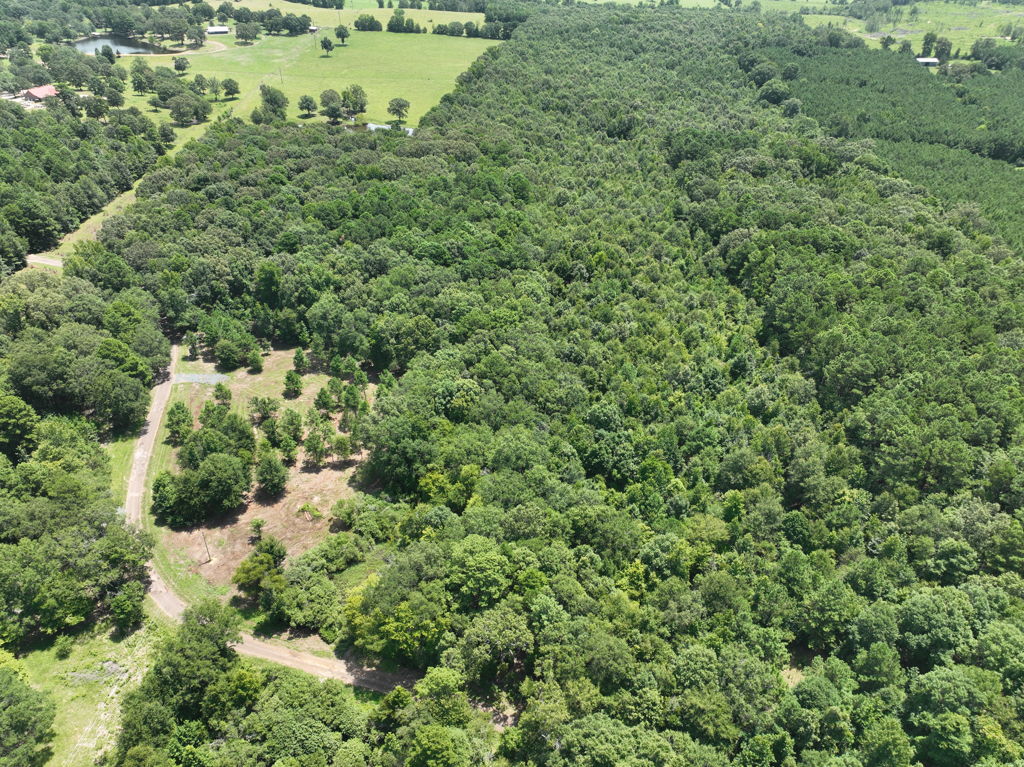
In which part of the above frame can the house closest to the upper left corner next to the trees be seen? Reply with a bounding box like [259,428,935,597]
[22,85,59,99]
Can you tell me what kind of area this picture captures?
forest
